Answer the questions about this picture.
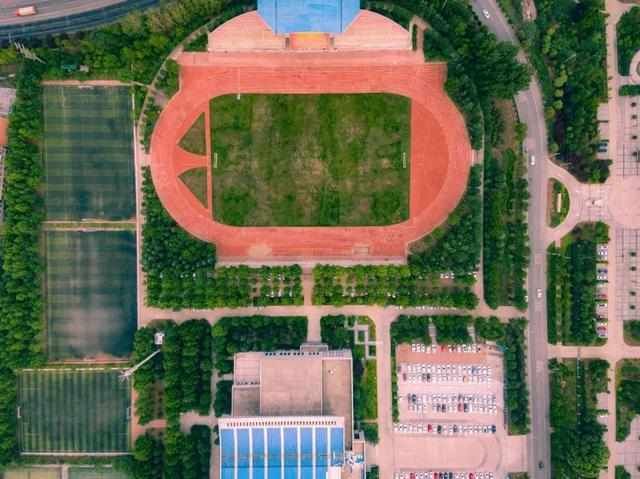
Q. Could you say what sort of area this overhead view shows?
sports ground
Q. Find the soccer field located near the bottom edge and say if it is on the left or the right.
left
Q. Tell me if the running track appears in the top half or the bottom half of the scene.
top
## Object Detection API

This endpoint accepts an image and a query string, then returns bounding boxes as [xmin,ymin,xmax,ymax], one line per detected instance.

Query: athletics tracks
[149,51,471,259]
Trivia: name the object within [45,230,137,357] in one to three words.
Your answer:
soccer field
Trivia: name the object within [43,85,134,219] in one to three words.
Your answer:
soccer field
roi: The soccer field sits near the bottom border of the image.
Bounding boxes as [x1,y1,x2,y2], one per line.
[18,368,131,455]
